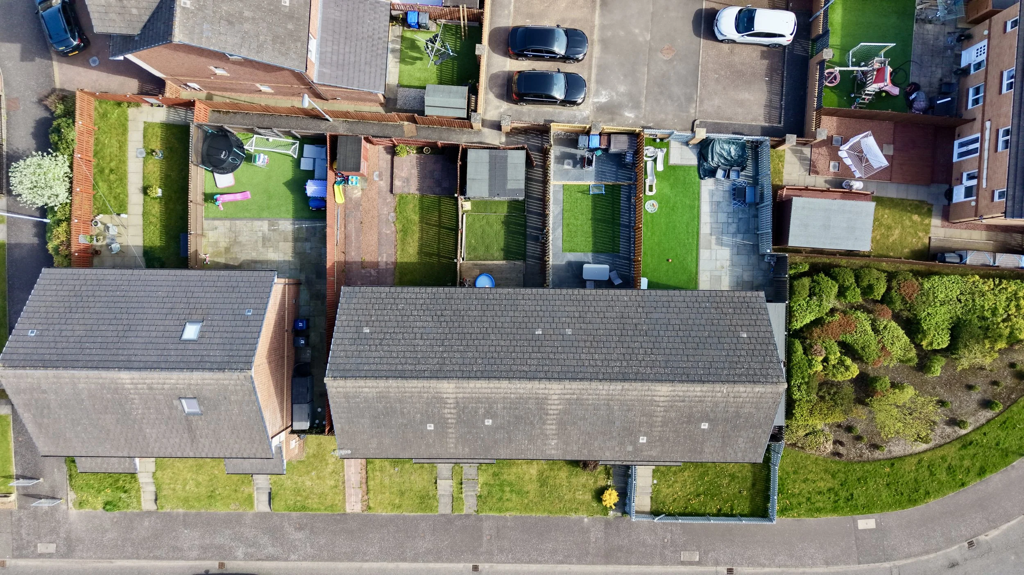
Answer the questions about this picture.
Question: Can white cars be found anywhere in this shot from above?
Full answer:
Yes, this view includes a white car.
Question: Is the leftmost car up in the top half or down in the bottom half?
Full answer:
The leftmost car is in the top half of the image.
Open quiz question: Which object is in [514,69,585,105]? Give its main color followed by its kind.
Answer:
black car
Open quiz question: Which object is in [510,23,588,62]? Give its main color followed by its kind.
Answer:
black car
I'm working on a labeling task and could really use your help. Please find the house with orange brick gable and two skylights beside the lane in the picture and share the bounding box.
[0,268,302,477]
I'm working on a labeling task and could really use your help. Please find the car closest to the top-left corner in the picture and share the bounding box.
[37,0,90,60]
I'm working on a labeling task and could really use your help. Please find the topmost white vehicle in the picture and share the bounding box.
[715,6,792,47]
